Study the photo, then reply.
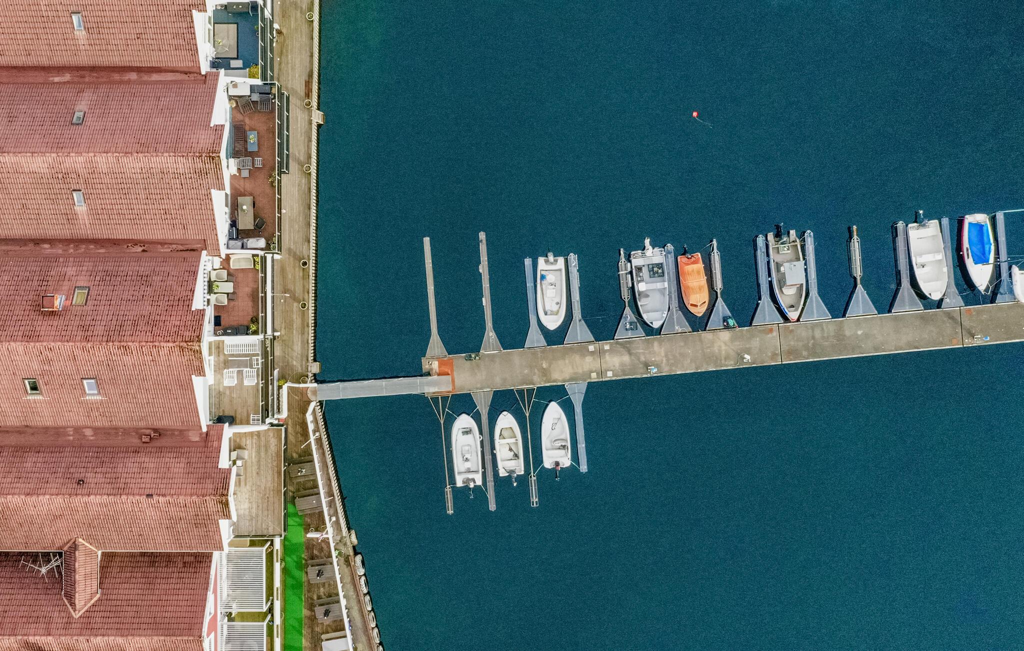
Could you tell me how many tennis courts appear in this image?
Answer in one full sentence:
The picture shows no tennis courts.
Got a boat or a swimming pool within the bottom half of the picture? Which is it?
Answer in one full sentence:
There is a boat within the bottom half of the picture.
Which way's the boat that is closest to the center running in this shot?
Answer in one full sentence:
The boat that is closest to the center is laid out vertically.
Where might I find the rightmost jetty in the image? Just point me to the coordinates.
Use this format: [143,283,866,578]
[423,301,1024,397]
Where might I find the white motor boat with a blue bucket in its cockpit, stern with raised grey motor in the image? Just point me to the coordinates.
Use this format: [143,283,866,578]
[536,249,566,330]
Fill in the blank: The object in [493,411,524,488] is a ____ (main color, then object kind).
white boat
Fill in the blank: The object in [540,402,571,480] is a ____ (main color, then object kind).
white boat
